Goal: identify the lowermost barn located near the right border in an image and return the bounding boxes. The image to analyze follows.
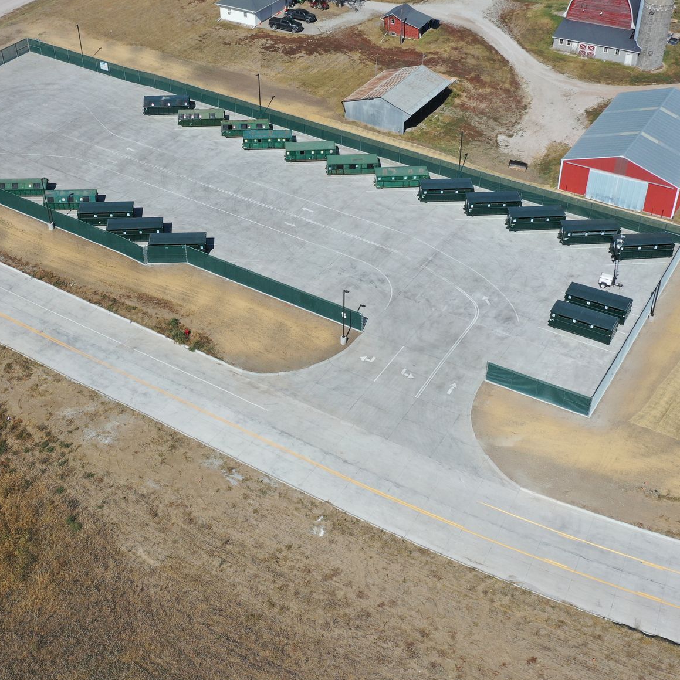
[558,86,680,220]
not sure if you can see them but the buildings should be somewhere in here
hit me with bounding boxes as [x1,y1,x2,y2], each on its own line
[558,86,680,220]
[551,0,647,64]
[341,64,453,134]
[213,0,294,29]
[379,2,436,37]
